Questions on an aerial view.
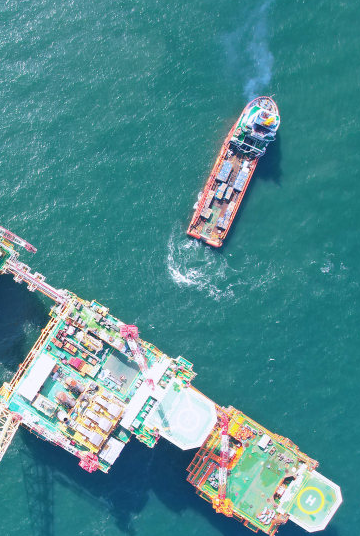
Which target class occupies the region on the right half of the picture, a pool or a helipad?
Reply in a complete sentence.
The one visible on the right half of the picture is a helipad.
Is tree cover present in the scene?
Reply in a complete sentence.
No, there's no tree cover in this view.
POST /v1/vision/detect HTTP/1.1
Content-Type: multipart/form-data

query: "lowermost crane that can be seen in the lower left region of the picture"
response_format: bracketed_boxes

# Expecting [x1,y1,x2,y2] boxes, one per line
[15,419,103,474]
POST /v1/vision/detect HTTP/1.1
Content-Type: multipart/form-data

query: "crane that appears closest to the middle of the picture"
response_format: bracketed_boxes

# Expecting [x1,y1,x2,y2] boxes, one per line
[117,317,154,389]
